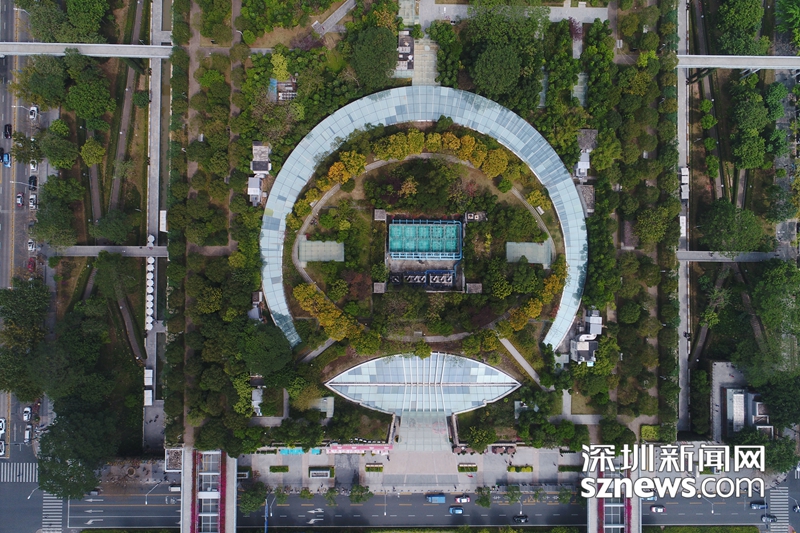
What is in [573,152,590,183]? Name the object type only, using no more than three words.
building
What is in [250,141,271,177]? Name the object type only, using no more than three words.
building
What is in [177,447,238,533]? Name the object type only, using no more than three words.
overpass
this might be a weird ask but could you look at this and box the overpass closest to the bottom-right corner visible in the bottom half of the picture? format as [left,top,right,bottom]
[587,444,646,533]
